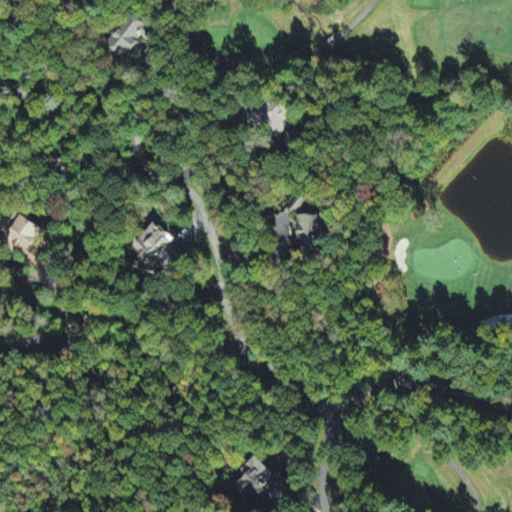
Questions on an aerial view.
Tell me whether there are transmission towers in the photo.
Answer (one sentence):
No, I find no transmission tower anywhere in the image.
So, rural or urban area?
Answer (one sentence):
It looks rural.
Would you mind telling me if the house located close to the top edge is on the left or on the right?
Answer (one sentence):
You can find the house located close to the top edge on the left side of the picture.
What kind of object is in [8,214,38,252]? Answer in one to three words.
house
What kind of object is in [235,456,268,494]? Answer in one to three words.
house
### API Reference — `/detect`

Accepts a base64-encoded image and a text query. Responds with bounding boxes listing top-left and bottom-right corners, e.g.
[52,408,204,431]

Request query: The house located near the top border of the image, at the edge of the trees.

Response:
[106,17,149,52]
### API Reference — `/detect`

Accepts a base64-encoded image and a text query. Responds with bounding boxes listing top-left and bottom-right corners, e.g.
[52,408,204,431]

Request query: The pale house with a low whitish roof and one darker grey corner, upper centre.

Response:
[266,104,286,132]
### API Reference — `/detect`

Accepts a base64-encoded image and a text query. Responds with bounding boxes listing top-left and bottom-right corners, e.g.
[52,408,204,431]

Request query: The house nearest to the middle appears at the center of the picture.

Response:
[292,214,316,236]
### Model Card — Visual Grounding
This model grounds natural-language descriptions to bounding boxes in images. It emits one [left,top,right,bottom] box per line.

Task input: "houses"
[235,456,268,494]
[266,104,286,132]
[129,221,174,262]
[292,214,316,236]
[8,214,38,252]
[106,17,149,52]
